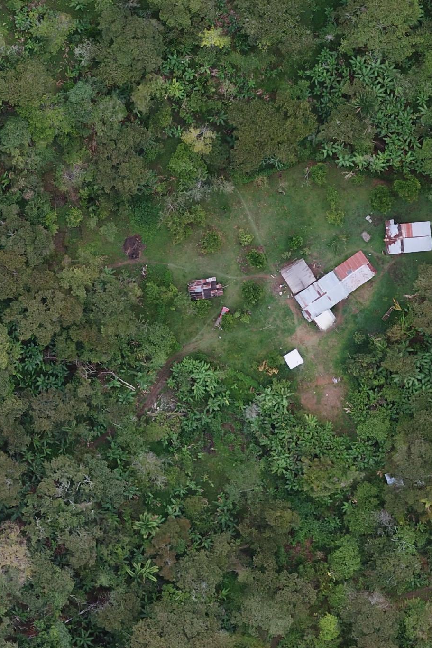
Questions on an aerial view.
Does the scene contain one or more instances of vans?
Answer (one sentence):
No, the photo shows no van.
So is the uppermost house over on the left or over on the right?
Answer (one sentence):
The uppermost house appears in the right half of the scene.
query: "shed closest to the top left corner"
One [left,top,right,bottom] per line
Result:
[189,277,228,300]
